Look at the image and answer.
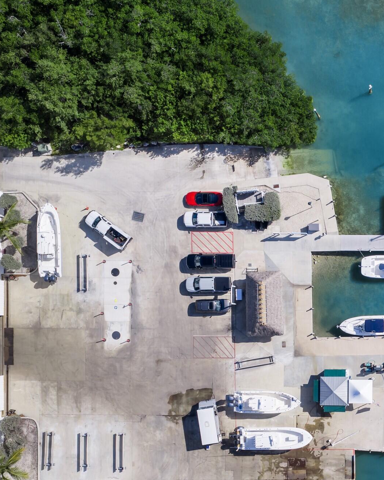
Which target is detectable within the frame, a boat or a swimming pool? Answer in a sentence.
I can see a boat in this picture.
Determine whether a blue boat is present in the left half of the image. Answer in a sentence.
No, the scene shows no blue boat in the left half of the image.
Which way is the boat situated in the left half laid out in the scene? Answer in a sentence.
The boat situated in the left half is oriented up and down.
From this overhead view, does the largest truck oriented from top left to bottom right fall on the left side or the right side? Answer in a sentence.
The largest truck oriented from top left to bottom right is on the left side of the image.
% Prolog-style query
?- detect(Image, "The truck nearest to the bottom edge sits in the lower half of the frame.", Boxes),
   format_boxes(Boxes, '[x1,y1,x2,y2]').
[199,395,226,446]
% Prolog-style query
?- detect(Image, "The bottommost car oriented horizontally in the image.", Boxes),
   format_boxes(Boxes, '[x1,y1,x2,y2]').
[195,297,232,314]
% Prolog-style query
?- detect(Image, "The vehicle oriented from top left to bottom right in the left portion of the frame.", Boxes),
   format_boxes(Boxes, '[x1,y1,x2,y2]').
[83,209,136,252]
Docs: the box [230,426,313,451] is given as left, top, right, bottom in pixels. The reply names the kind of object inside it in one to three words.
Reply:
boat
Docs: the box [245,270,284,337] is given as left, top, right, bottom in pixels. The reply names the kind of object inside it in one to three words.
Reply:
shed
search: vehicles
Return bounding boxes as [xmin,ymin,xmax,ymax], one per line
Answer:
[186,251,237,270]
[185,189,223,209]
[184,209,230,228]
[195,297,232,314]
[186,275,233,294]
[83,209,136,252]
[199,395,226,446]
